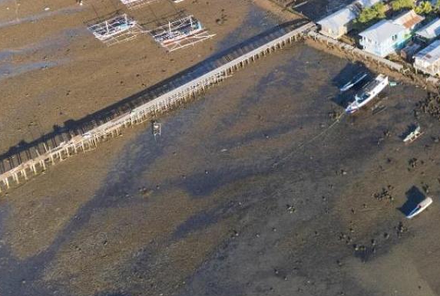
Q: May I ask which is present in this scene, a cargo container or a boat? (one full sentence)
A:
Looking from above, you can make out a boat.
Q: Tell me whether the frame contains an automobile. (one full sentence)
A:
No, no automobile is visible in the scene.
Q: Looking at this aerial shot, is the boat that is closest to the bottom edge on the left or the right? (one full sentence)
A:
The boat that is closest to the bottom edge is on the right side of the image.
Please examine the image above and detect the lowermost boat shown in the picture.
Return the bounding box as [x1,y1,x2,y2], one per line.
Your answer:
[406,192,433,217]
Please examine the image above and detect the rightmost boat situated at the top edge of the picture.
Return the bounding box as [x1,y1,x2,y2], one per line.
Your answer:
[146,10,219,59]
